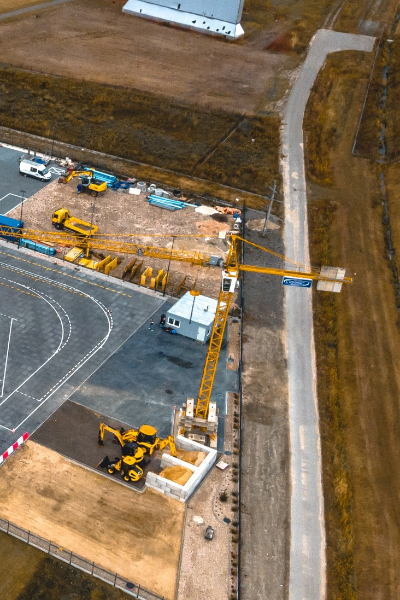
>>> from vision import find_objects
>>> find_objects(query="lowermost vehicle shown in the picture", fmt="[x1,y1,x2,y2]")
[97,453,144,485]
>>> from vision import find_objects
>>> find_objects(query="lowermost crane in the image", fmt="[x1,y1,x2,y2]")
[0,222,352,460]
